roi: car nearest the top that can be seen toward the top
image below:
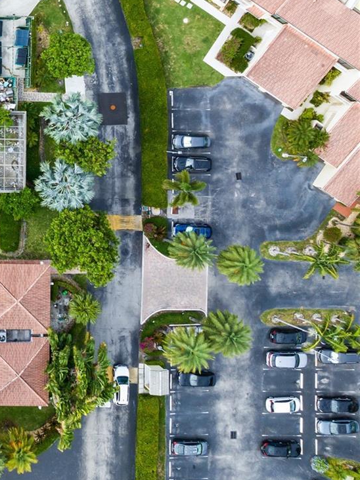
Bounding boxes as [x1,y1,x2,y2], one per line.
[172,132,209,150]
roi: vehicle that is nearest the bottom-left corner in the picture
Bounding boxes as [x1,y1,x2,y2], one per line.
[111,364,131,405]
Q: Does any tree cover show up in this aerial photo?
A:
Yes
